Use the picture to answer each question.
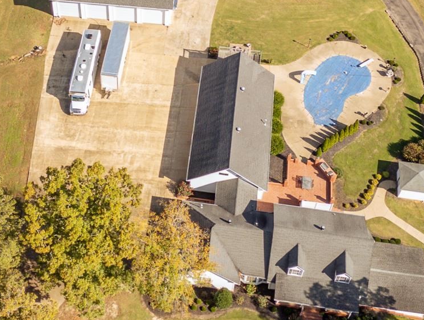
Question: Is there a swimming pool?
Yes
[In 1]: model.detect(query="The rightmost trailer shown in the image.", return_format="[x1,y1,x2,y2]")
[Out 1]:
[101,21,130,97]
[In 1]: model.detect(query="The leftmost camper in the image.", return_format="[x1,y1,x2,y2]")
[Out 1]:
[66,30,101,118]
